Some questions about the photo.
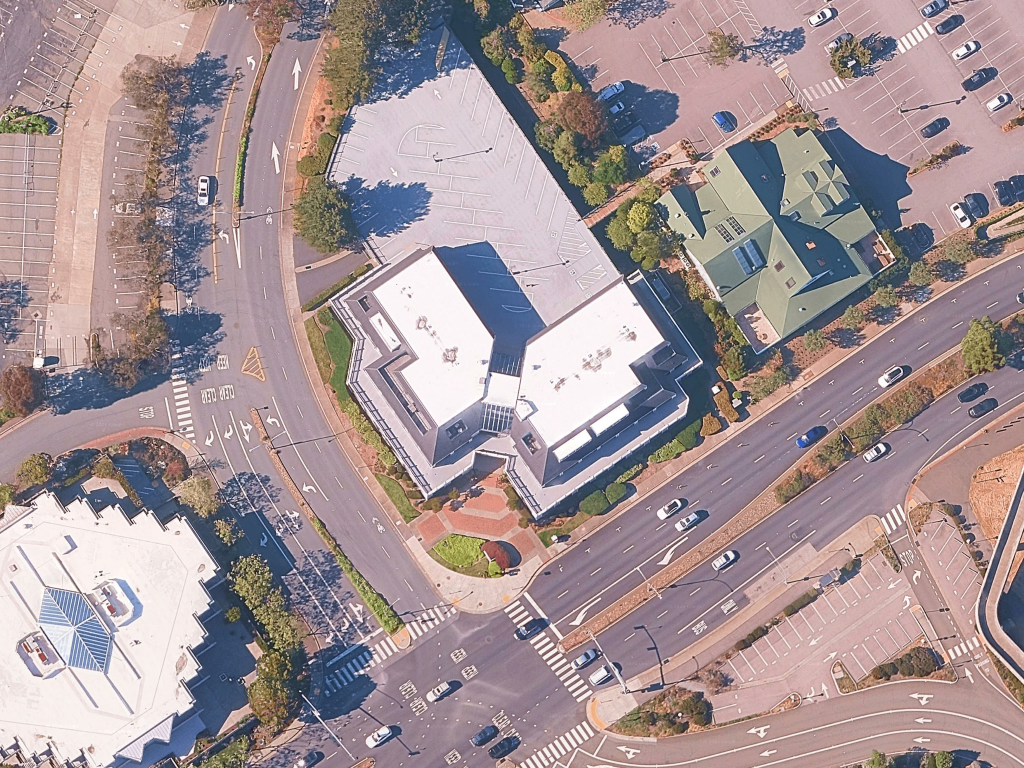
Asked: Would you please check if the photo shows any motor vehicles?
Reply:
Yes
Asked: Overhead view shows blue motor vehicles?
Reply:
Yes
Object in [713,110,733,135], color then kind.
blue car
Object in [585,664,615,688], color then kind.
white vehicle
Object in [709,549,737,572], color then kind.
white car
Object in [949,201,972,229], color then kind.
white car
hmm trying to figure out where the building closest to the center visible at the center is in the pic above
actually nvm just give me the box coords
[328,247,704,522]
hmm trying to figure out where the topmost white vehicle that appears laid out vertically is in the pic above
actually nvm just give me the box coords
[196,177,210,205]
